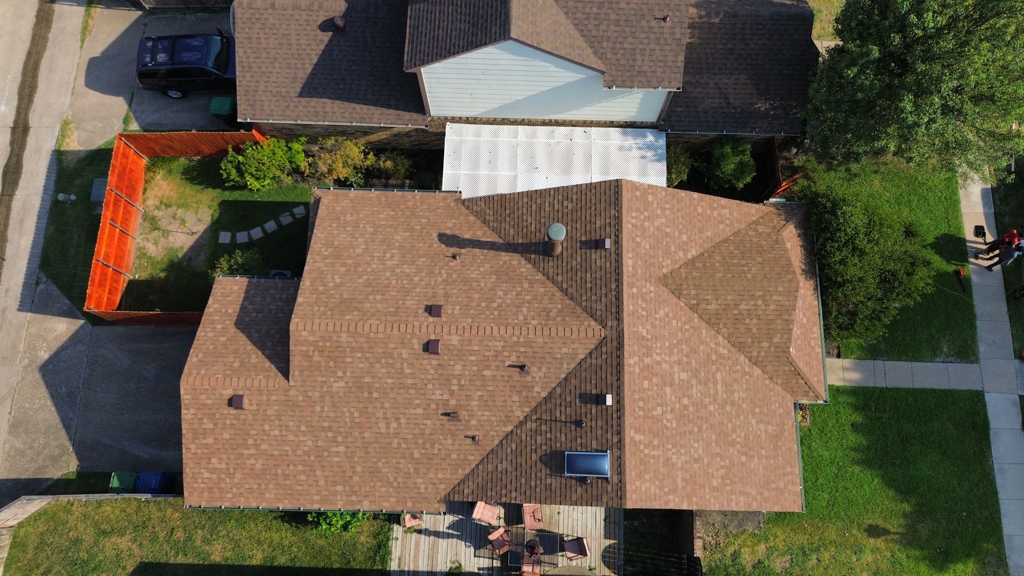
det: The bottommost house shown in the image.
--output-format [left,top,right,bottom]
[182,178,831,518]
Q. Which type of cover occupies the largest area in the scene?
buildings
